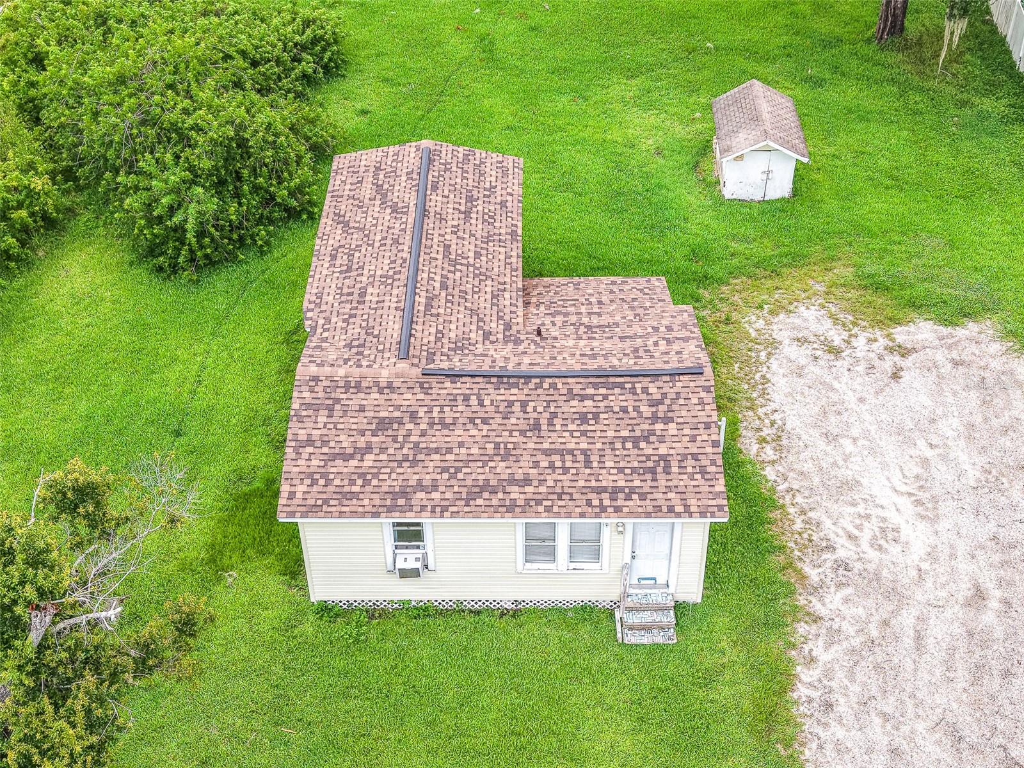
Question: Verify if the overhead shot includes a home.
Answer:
Yes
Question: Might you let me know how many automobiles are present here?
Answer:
0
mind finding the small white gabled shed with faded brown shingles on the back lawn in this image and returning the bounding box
[712,81,810,199]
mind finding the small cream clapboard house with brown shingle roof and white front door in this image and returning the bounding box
[278,140,728,610]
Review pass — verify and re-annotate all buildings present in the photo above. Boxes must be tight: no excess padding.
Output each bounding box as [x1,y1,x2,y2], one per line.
[278,140,728,610]
[712,81,810,199]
